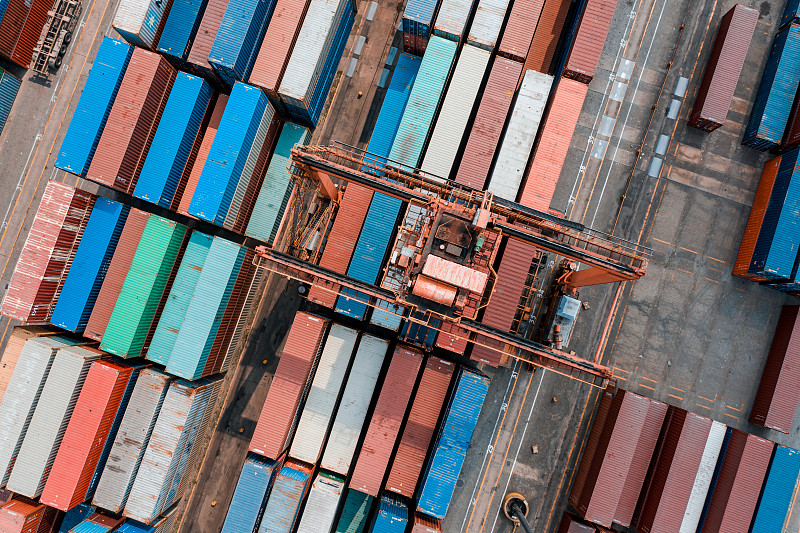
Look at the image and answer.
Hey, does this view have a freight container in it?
Yes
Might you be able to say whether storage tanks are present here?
No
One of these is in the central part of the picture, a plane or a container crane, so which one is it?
container crane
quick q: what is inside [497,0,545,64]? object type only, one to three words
shipping container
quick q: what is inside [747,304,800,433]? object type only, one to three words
shipping container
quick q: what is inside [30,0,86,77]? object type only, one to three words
trailer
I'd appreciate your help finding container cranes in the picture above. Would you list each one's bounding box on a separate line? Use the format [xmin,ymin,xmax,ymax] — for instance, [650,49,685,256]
[249,139,654,389]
